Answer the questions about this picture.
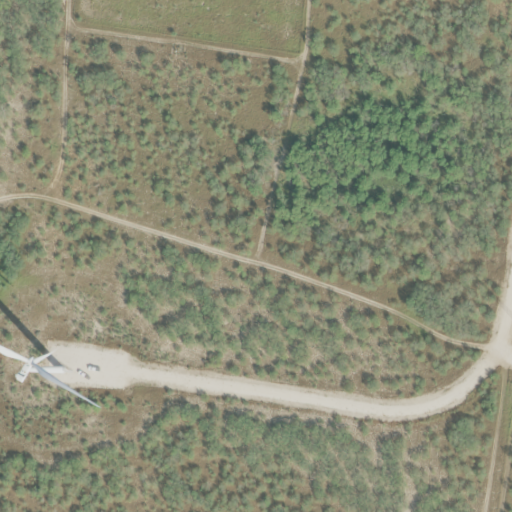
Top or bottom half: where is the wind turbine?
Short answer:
bottom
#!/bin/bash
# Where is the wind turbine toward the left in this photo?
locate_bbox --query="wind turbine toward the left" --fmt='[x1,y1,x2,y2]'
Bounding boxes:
[0,346,95,408]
